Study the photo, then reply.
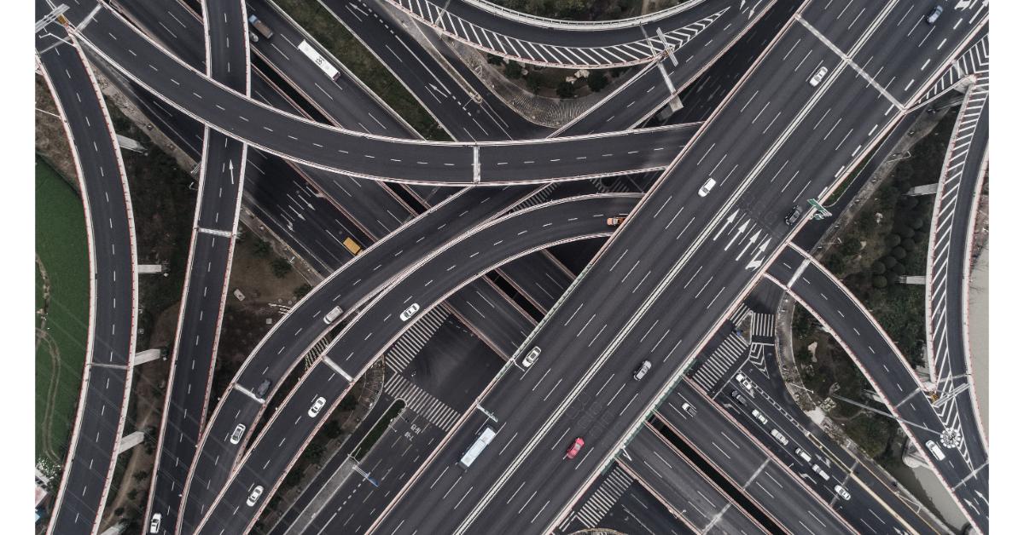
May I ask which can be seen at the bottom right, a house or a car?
car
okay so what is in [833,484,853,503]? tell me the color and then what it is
white car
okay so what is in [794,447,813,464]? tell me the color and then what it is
white vehicle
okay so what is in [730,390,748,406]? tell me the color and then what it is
gray car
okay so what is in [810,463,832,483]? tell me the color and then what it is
white vehicle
